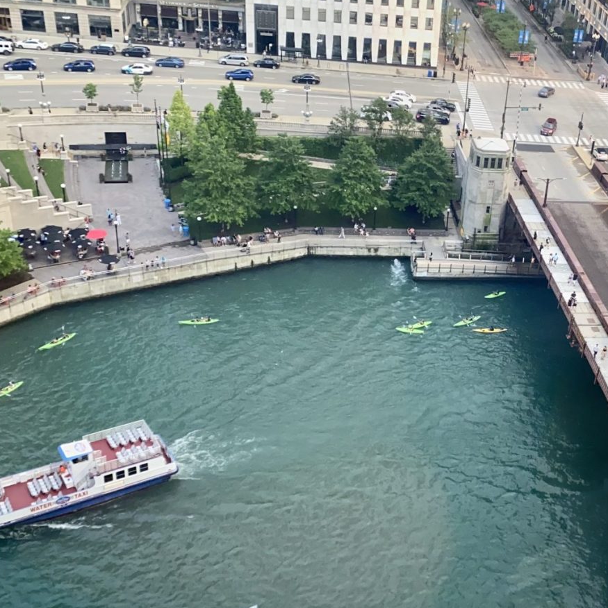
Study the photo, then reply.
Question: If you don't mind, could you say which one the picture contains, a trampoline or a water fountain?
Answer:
water fountain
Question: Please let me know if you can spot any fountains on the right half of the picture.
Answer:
No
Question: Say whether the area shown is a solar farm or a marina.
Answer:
marina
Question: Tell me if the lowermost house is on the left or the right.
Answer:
right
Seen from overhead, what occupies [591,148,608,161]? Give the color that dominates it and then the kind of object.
white vehicle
